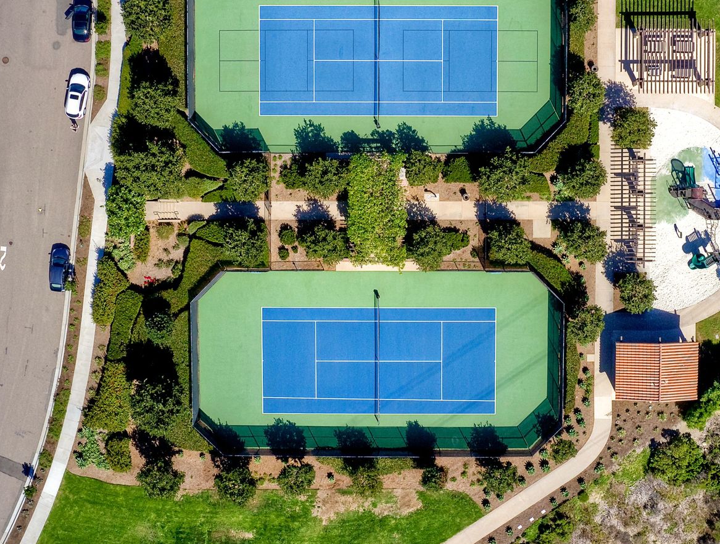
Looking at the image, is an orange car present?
No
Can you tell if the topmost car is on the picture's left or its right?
left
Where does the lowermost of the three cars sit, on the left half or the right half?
left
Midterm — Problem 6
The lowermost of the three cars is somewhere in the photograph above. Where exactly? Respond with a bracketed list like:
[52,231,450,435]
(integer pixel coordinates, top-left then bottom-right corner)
[47,245,77,290]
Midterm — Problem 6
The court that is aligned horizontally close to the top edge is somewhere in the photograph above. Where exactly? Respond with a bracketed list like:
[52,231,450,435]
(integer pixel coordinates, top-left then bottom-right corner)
[195,0,562,154]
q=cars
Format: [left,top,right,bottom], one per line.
[63,0,93,41]
[64,68,91,117]
[47,245,77,290]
